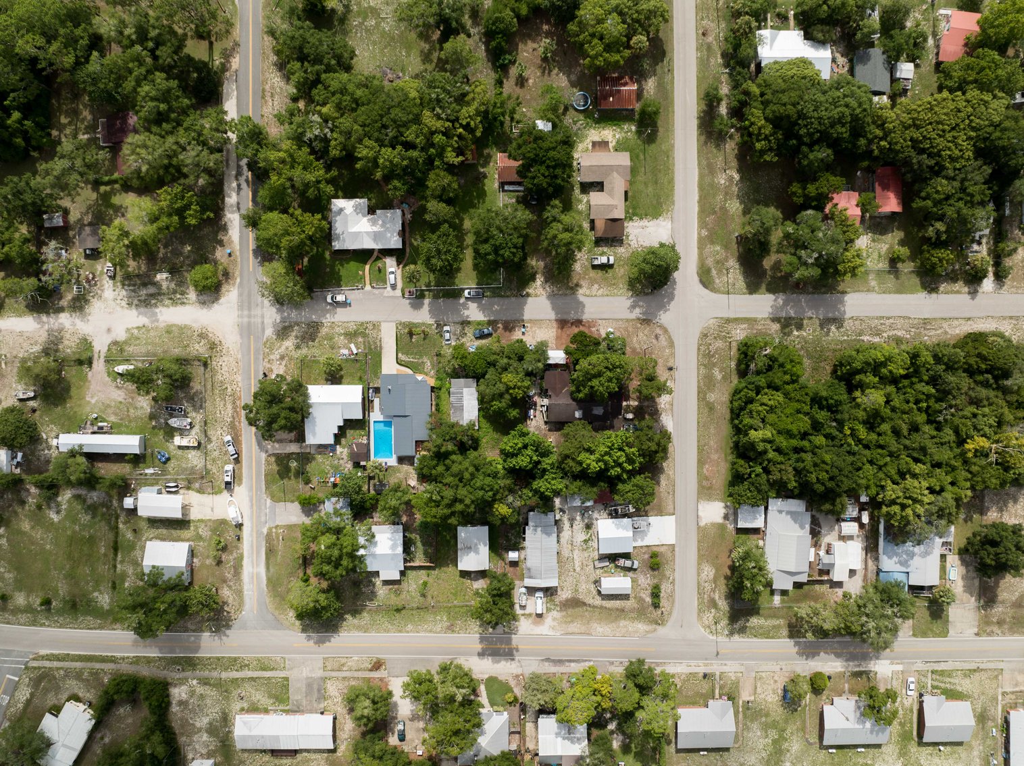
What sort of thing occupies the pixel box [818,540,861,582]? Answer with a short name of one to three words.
building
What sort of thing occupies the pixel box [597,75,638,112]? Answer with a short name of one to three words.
barn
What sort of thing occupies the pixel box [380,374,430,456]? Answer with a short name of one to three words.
house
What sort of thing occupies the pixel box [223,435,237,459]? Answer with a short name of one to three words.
car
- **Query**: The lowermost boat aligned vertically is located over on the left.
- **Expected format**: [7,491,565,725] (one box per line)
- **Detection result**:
[229,497,241,528]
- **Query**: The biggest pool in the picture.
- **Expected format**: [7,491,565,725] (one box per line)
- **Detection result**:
[372,420,394,460]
